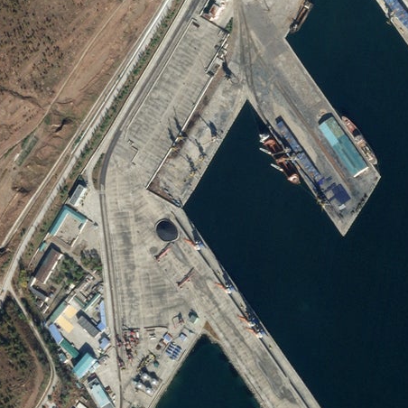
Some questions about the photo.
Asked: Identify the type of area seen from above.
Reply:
port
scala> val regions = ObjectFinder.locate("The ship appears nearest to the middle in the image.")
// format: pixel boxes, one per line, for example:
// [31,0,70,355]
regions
[258,133,298,184]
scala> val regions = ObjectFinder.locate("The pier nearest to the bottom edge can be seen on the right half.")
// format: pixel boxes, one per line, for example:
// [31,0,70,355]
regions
[182,208,320,408]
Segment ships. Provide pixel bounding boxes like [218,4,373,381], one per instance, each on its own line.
[258,133,298,184]
[342,116,378,167]
[291,2,311,33]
